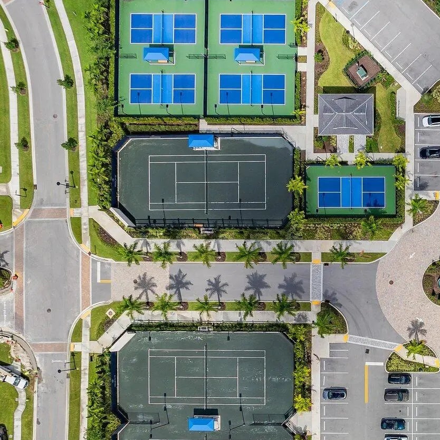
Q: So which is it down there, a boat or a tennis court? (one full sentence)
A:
This aerial view contains a tennis court.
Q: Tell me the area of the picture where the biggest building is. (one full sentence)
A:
The biggest building appears toward the top right of the photo.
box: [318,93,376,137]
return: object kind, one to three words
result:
building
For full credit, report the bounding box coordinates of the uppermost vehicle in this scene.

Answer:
[422,114,440,127]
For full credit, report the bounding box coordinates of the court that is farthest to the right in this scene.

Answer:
[306,165,396,214]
